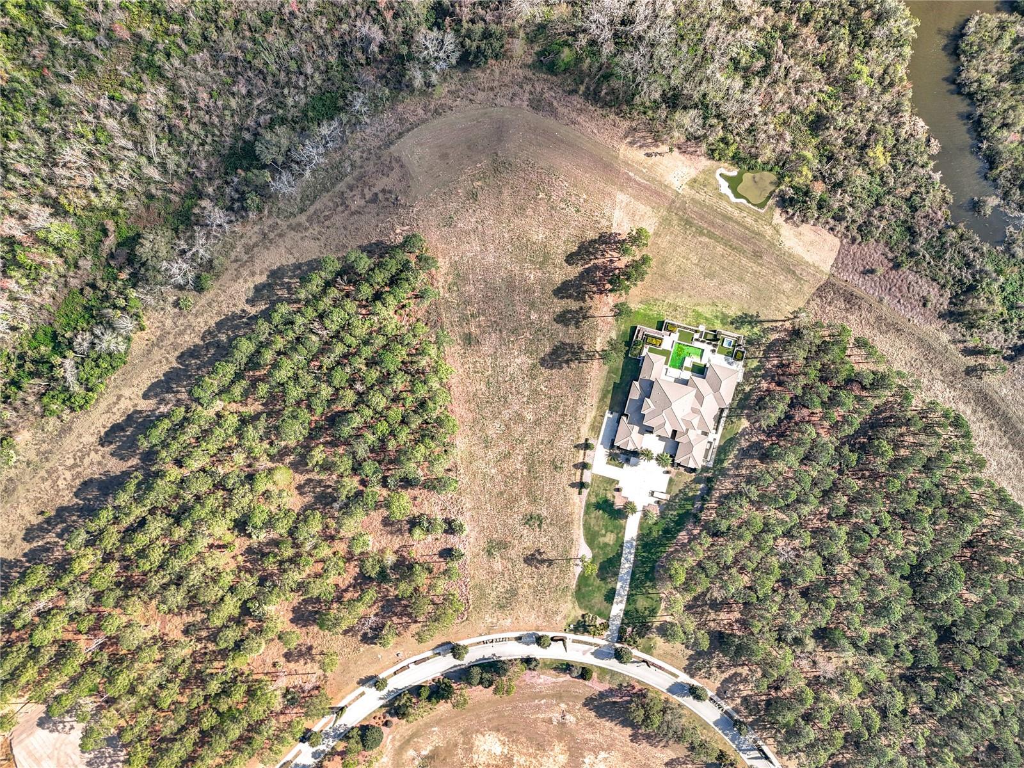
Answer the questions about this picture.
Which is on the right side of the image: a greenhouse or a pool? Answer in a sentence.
What appears on the right side of the image is a pool.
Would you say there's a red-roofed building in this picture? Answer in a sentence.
No, I find no red-roofed building anywhere in the image.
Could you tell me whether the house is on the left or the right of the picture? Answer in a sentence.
The house appears in the right half of the scene.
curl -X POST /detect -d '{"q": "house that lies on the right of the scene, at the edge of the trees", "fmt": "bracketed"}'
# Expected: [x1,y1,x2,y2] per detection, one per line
[614,353,738,468]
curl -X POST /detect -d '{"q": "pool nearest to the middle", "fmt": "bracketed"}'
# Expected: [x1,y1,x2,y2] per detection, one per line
[668,341,705,371]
